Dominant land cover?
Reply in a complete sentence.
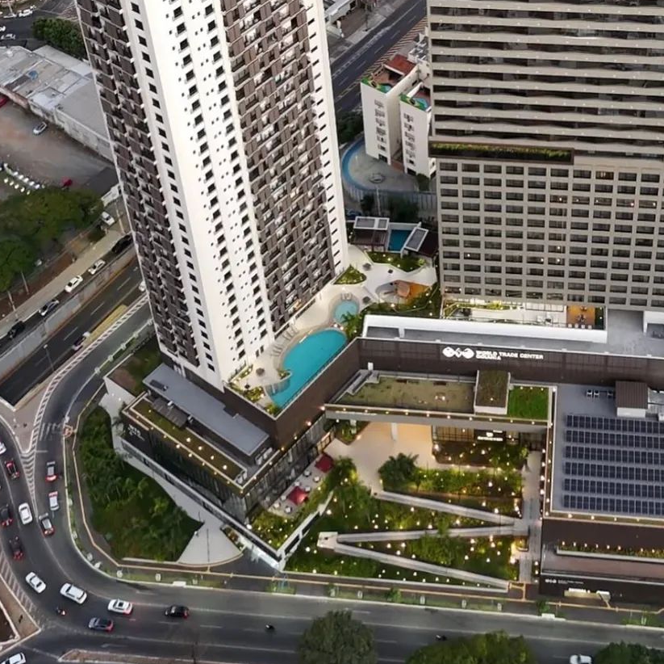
The scene is dominated by buildings.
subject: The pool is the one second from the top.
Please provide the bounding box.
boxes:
[332,299,360,324]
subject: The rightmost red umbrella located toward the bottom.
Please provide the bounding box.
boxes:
[313,445,334,464]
